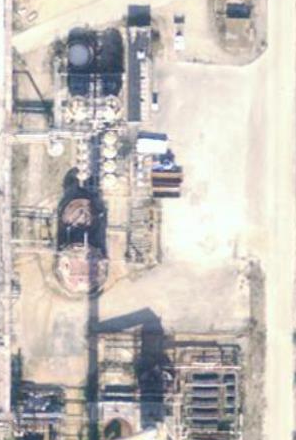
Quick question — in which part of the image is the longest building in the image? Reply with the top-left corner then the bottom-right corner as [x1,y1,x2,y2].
[128,24,149,121]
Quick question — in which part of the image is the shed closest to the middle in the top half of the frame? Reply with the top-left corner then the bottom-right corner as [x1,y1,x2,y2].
[136,137,167,153]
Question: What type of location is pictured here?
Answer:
industrial area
